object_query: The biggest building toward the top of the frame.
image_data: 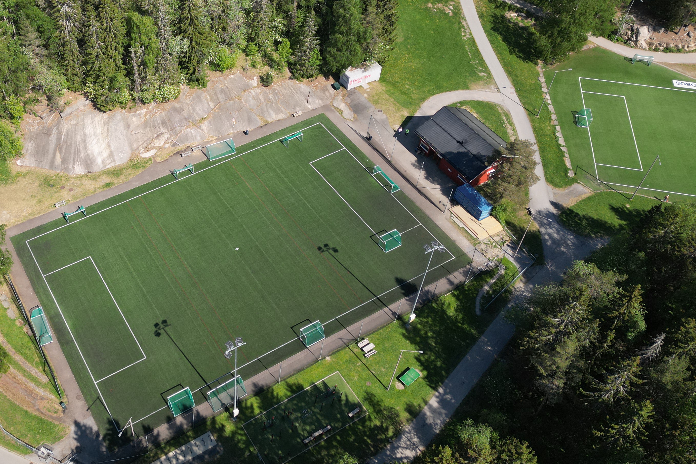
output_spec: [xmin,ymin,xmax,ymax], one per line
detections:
[411,104,520,184]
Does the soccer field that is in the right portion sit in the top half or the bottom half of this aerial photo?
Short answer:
top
